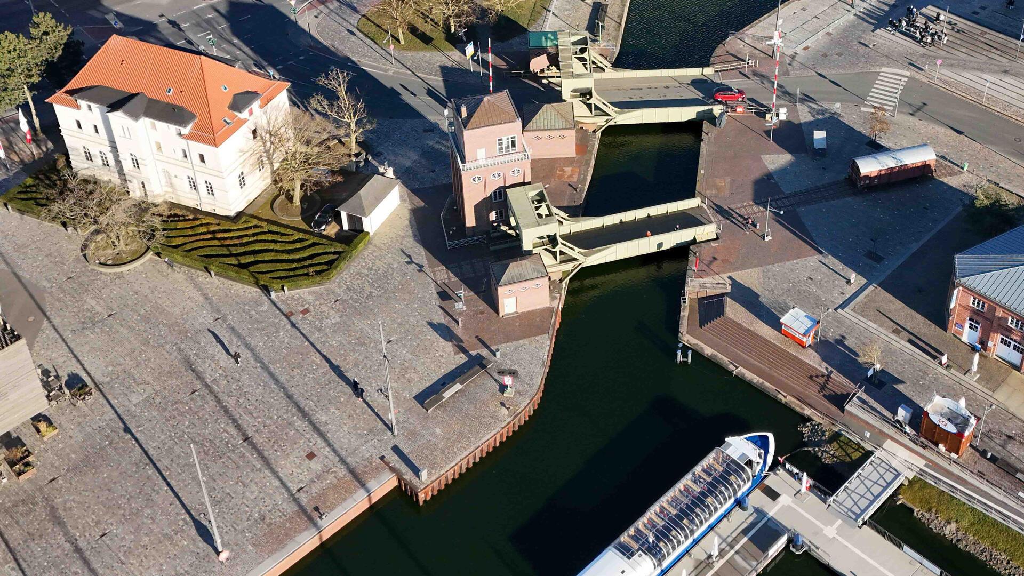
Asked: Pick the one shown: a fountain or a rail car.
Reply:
rail car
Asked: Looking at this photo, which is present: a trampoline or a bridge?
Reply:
bridge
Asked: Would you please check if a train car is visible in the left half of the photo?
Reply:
No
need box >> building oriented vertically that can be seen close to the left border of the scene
[0,309,50,433]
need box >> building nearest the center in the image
[487,252,550,319]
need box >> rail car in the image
[847,140,941,183]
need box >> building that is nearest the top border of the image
[528,18,578,69]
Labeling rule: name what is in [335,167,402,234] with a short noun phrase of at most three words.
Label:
building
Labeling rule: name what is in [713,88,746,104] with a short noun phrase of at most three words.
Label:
car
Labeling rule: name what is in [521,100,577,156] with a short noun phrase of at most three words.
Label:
building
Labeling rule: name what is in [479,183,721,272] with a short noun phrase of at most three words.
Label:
bridge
